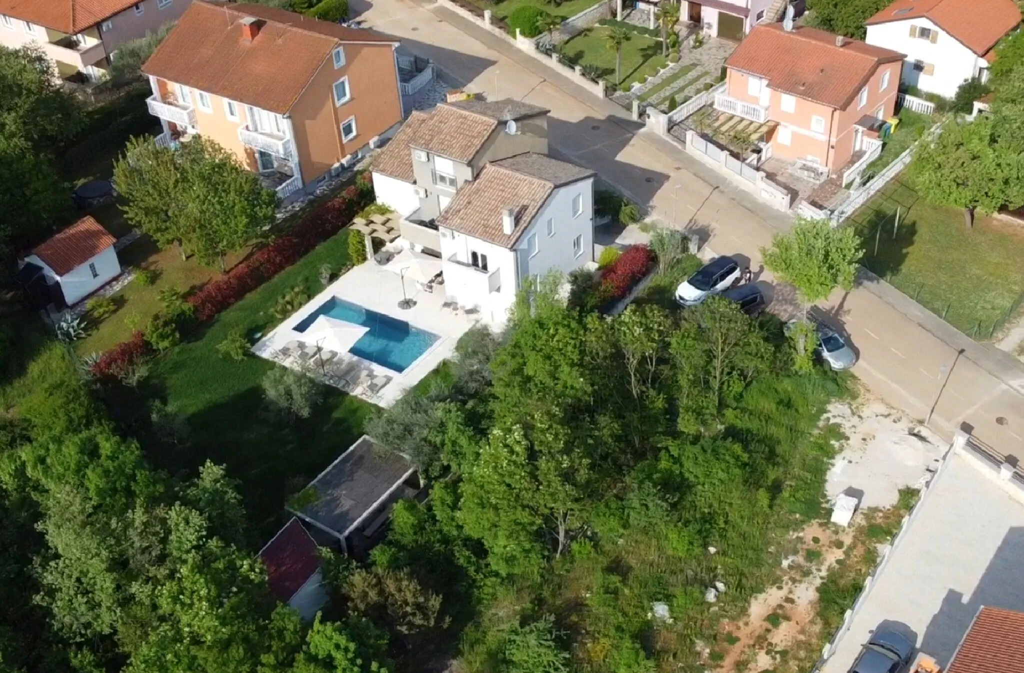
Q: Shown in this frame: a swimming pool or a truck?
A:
swimming pool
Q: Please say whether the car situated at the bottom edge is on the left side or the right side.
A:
right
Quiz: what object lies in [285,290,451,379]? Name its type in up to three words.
swimming pool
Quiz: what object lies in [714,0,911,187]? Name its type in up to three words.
house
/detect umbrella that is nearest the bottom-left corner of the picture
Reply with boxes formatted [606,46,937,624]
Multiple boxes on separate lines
[299,312,372,380]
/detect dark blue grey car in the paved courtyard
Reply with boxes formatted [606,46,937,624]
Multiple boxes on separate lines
[848,623,916,673]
